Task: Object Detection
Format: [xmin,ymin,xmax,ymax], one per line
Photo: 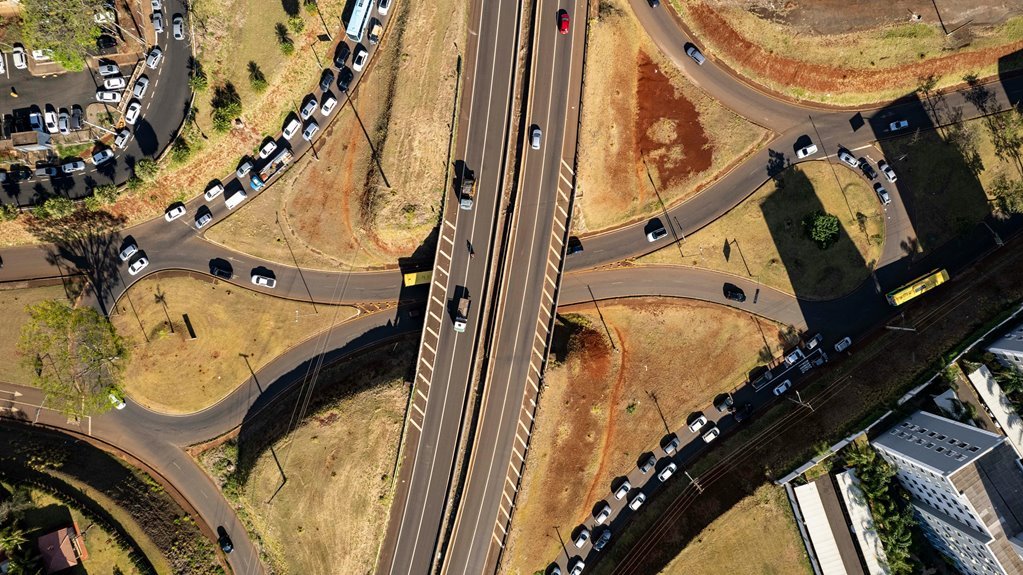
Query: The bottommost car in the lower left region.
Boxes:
[220,532,235,554]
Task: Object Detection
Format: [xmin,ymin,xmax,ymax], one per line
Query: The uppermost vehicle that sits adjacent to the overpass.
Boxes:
[459,172,477,211]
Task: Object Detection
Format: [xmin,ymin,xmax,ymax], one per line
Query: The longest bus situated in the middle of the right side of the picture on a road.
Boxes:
[878,268,949,308]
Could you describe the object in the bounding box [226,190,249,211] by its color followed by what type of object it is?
white vehicle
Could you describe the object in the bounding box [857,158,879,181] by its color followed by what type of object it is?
black truck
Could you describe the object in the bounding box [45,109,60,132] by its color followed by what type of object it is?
white car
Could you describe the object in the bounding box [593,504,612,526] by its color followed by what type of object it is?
white car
